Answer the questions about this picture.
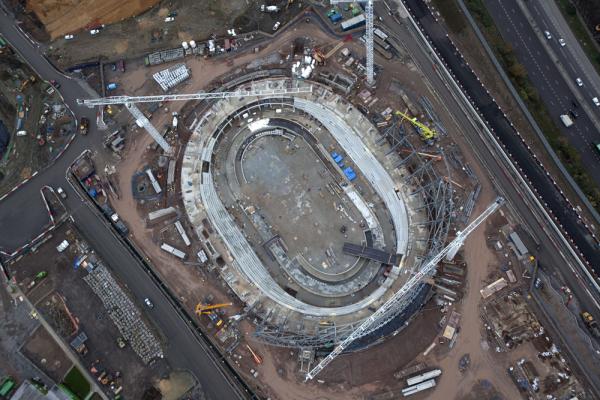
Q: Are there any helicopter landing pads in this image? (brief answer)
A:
No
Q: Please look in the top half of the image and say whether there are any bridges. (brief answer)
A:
No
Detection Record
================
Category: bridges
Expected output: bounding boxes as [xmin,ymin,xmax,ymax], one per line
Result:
[342,242,401,267]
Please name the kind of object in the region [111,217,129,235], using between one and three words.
vehicle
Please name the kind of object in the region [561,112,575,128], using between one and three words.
vehicle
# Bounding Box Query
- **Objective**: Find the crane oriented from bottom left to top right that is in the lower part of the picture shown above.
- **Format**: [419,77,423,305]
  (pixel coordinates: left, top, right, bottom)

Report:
[304,196,506,380]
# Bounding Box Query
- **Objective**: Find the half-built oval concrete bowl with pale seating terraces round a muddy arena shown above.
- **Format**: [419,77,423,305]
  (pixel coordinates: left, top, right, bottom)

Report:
[181,60,458,360]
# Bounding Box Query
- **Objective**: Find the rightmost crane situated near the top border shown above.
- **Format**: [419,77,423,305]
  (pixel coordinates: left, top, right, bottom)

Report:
[330,0,383,93]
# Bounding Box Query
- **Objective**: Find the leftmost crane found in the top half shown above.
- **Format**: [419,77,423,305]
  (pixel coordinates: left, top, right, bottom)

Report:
[77,88,313,158]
